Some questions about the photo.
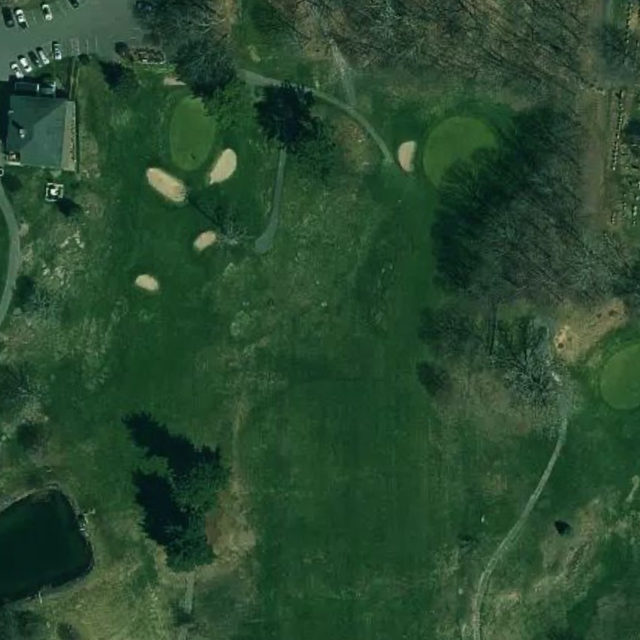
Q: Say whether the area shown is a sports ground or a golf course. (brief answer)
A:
golf course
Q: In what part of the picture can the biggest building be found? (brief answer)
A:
top left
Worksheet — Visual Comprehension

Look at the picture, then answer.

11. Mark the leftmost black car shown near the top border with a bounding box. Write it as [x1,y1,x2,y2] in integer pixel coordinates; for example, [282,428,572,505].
[1,8,14,27]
